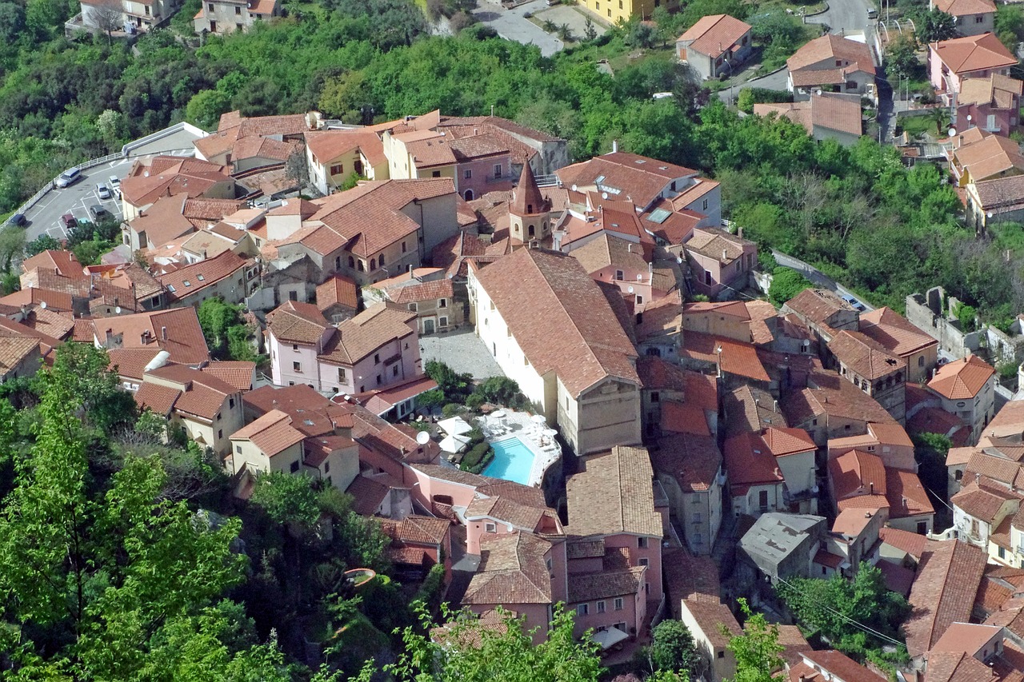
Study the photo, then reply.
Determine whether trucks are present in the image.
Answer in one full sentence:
No, there appears to be no truck in this shot.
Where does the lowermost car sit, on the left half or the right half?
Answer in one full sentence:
It is on the right.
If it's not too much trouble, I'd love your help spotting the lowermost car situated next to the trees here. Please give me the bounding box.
[841,288,868,311]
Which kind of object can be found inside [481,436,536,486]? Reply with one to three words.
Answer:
swimming pool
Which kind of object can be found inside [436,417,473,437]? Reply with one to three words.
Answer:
umbrella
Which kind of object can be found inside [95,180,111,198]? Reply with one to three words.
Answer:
car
